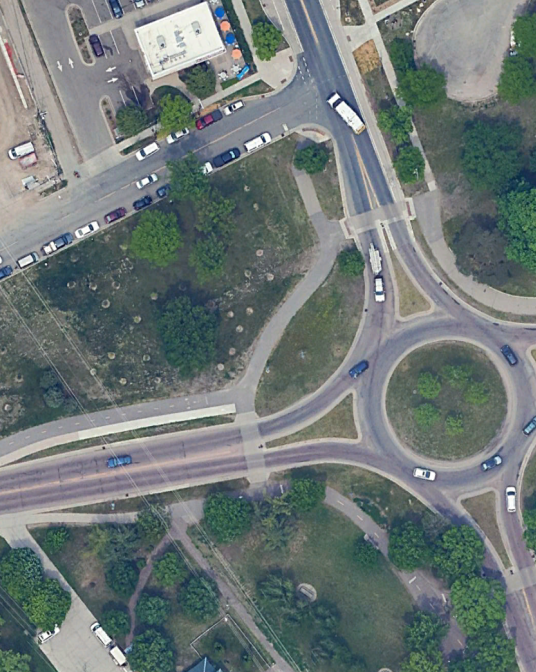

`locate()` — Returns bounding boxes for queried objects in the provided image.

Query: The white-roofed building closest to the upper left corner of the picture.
[136,0,226,81]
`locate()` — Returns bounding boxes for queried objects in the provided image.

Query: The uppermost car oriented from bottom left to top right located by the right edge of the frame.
[522,415,536,436]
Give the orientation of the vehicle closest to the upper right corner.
at an angle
